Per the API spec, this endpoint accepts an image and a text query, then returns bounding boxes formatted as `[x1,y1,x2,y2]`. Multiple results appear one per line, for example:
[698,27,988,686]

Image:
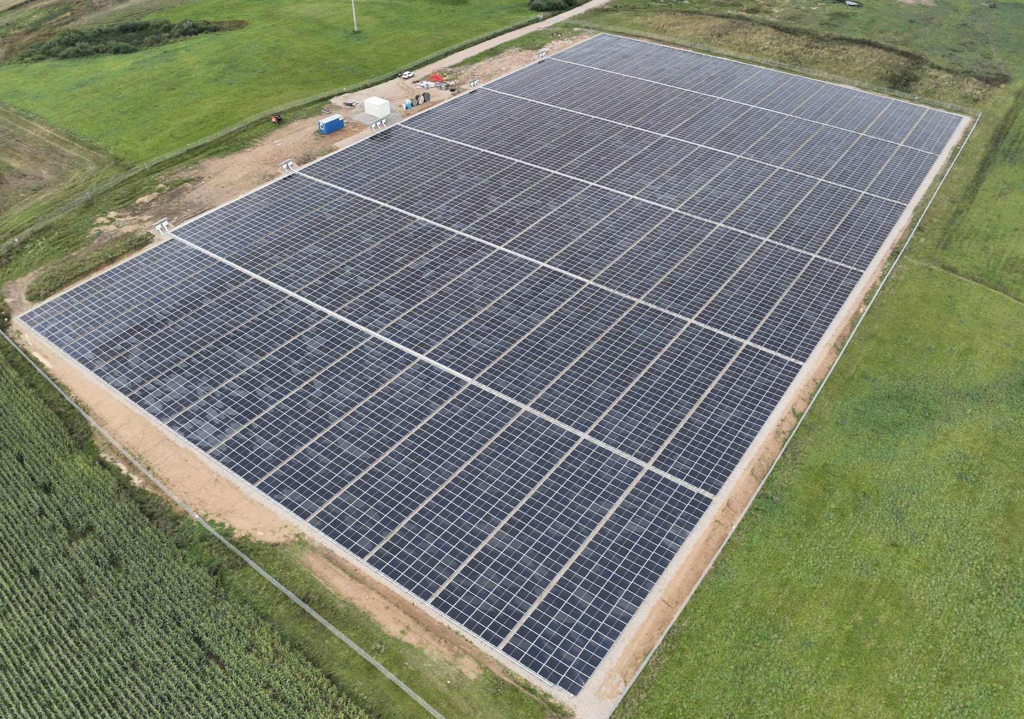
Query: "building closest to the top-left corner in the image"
[363,97,390,118]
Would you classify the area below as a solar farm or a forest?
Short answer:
solar farm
